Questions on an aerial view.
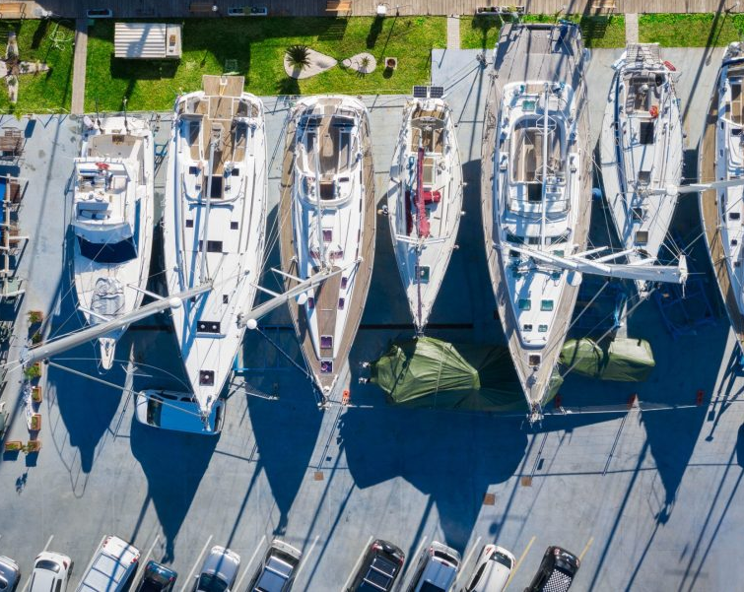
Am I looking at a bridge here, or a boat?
boat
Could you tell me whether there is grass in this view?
Yes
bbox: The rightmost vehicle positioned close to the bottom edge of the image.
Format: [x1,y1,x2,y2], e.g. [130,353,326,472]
[519,544,581,592]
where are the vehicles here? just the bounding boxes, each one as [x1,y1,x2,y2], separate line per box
[76,534,146,592]
[241,537,305,592]
[455,541,517,592]
[519,544,581,592]
[185,543,245,592]
[0,553,28,592]
[398,536,464,592]
[342,536,408,592]
[132,557,182,592]
[17,547,76,592]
